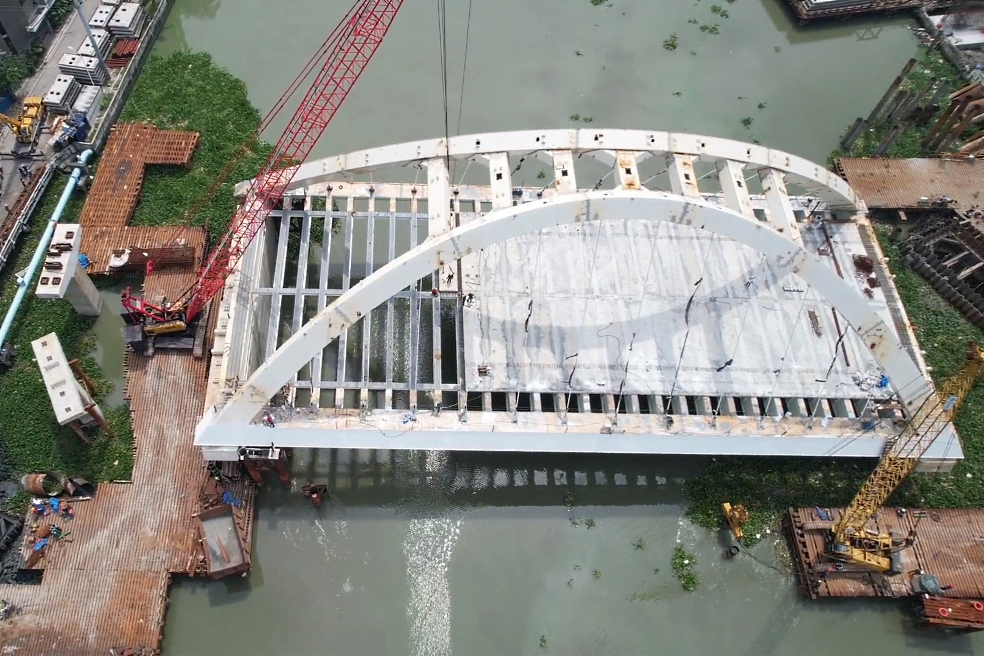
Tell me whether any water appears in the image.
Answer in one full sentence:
Yes, there is water in the image.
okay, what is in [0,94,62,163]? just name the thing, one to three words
truck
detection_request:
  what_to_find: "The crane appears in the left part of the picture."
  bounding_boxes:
[109,0,470,361]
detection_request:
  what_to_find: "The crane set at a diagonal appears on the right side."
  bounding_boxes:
[795,330,984,579]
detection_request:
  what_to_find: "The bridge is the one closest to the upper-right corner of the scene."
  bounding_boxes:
[193,131,965,459]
